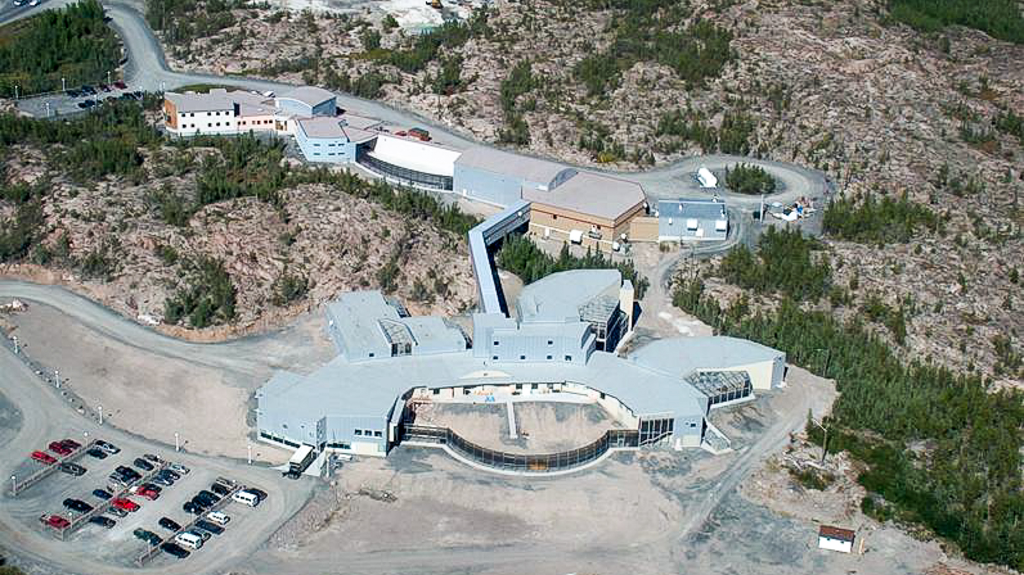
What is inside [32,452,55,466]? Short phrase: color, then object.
red car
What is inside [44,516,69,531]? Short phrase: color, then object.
red car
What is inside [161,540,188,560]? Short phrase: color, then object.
black car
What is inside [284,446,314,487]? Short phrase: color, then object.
white truck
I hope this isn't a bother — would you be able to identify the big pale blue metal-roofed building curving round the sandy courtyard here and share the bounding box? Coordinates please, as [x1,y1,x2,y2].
[254,269,786,460]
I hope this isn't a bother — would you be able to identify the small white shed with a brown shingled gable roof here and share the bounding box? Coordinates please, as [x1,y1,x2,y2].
[819,524,854,553]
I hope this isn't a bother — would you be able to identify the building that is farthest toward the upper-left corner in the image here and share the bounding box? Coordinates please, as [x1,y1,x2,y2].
[164,89,235,136]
